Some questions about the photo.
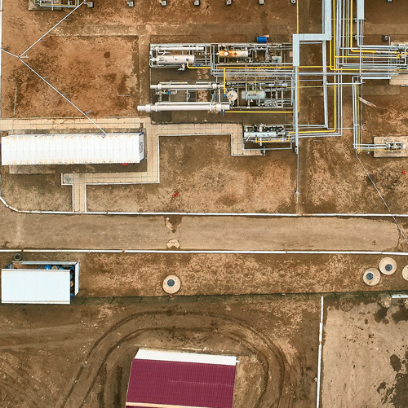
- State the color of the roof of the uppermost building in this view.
white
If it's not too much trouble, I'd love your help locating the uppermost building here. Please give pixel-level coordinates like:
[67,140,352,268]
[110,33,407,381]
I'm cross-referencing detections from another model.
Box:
[1,132,146,165]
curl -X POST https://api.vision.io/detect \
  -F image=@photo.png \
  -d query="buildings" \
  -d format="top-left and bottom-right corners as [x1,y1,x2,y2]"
[125,350,240,408]
[1,262,80,305]
[1,132,146,165]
